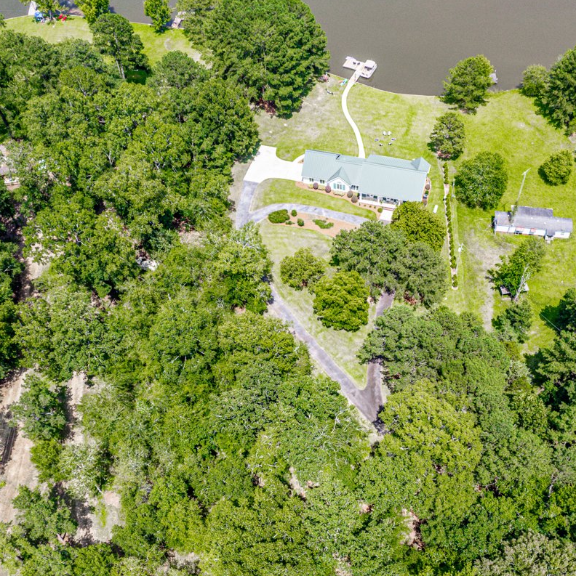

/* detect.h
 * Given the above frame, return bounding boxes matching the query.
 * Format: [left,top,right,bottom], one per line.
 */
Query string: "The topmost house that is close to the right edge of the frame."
[493,204,573,248]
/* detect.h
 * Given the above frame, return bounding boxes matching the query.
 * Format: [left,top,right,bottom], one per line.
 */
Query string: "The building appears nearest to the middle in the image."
[301,147,434,215]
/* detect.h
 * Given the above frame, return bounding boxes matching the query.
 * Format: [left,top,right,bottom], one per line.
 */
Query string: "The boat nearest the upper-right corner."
[359,55,378,81]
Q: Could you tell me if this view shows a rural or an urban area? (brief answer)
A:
rural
